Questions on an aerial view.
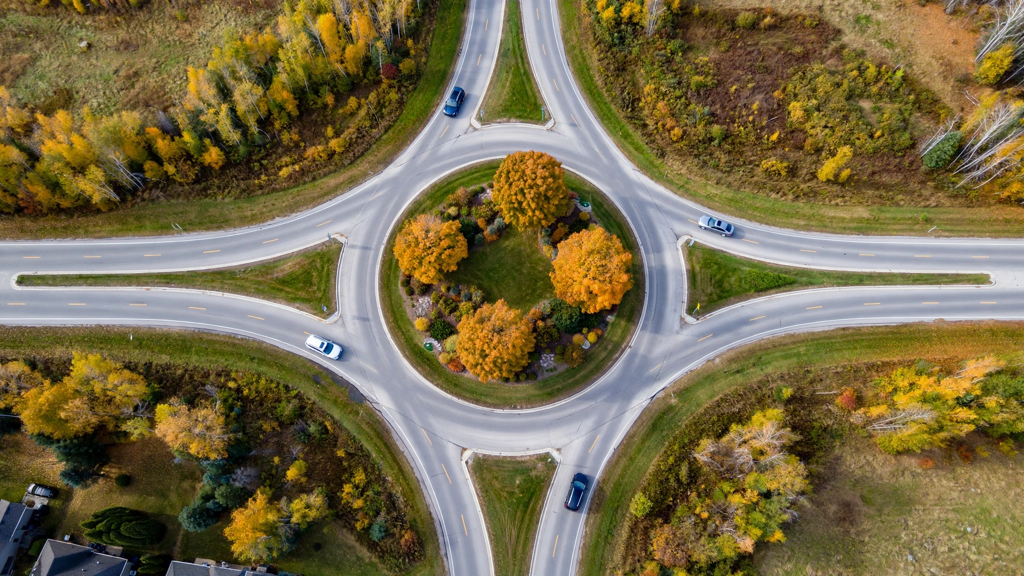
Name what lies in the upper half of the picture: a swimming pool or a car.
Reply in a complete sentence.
The feature located in the upper half of the picture is a car.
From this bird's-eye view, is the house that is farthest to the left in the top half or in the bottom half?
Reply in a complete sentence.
Seen from above, the house that is farthest to the left lies in the bottom half of the view.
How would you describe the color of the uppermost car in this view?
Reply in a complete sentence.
From above, the uppermost car appears blue.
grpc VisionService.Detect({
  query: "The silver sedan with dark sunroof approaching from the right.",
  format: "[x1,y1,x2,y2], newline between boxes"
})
[697,217,735,239]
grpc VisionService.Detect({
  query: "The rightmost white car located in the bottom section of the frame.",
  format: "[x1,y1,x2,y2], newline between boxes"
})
[304,334,343,360]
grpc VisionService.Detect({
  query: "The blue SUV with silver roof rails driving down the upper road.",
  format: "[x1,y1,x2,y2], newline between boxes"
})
[443,88,466,119]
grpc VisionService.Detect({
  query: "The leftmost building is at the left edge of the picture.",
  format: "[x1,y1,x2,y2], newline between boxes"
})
[0,497,36,565]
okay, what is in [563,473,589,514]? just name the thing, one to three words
car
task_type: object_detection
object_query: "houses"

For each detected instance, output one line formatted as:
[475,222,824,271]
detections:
[167,560,280,576]
[31,538,134,576]
[0,497,36,565]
